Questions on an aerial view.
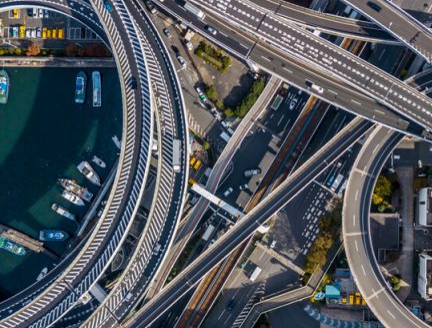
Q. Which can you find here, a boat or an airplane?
boat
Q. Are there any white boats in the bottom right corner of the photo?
No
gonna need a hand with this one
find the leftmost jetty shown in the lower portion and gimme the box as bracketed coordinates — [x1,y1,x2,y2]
[2,229,45,251]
